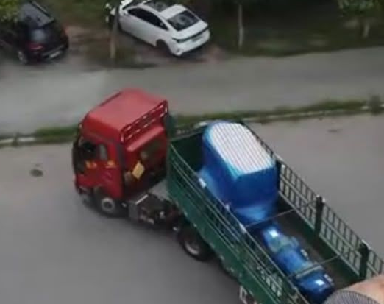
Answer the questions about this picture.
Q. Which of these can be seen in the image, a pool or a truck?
truck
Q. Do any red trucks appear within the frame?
Yes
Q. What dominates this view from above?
paved ground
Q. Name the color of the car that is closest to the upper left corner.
black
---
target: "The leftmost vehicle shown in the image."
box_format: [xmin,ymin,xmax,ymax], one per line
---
[0,0,69,63]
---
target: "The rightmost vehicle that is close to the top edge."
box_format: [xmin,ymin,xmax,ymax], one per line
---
[108,0,208,56]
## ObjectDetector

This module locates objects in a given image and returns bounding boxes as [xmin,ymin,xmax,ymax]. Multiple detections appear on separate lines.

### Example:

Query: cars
[108,0,208,56]
[0,0,69,63]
